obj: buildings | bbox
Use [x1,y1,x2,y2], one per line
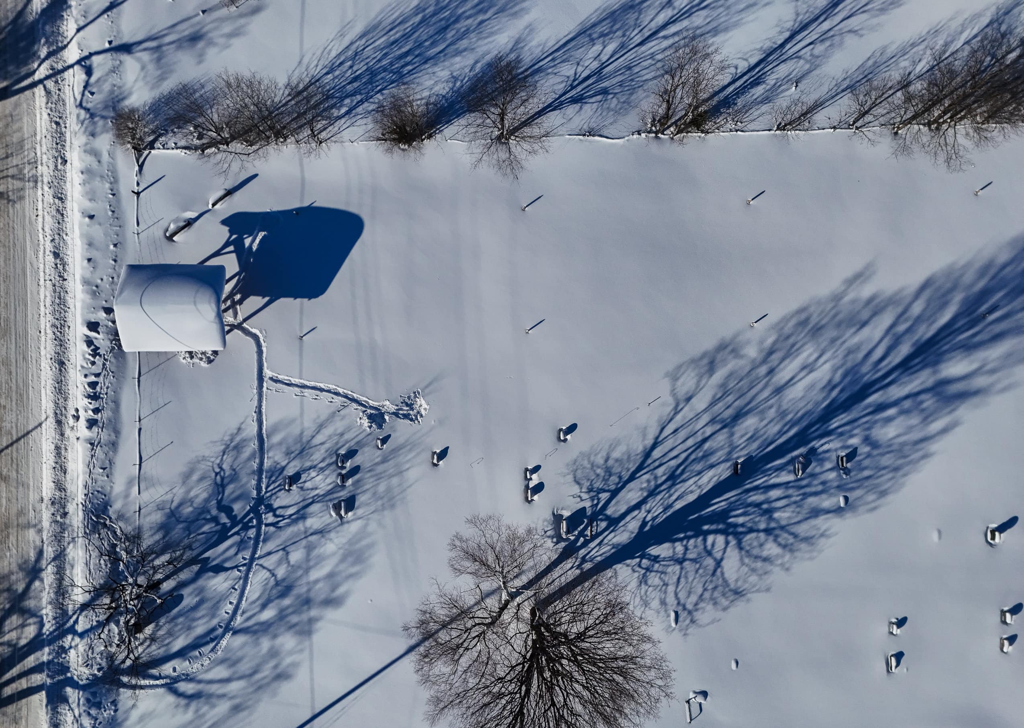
[114,263,228,352]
